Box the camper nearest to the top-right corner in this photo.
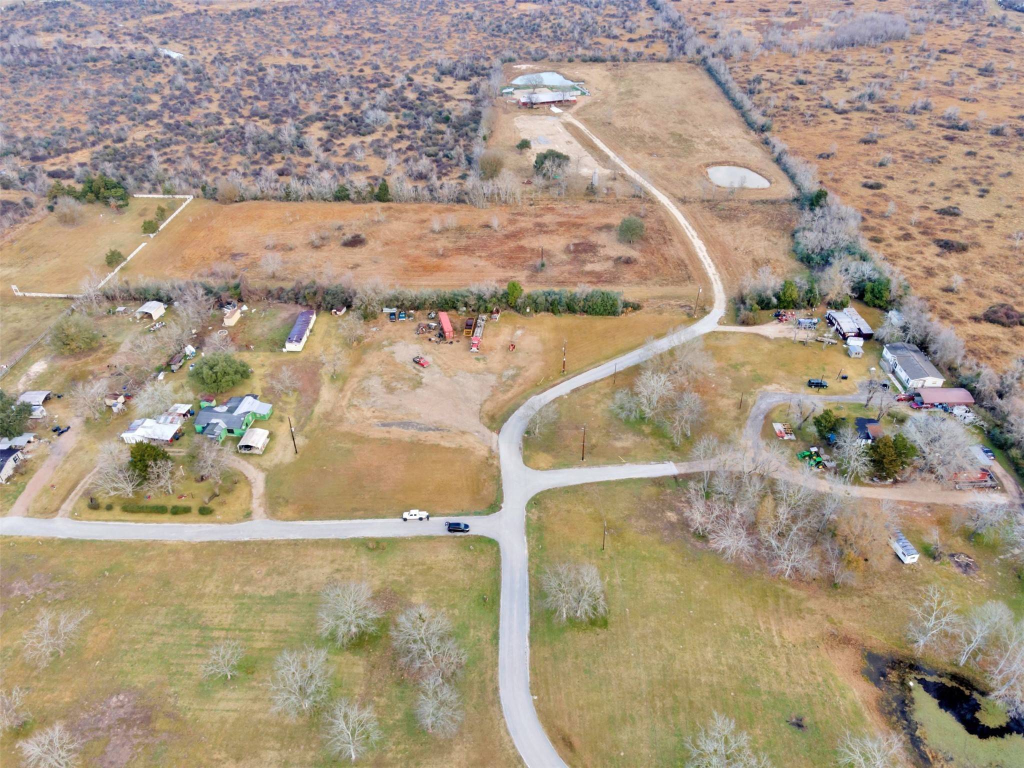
[886,312,902,332]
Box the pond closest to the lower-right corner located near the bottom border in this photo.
[915,677,1024,742]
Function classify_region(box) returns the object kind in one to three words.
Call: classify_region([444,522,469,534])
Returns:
vehicle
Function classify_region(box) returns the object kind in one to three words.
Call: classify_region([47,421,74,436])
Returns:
vehicle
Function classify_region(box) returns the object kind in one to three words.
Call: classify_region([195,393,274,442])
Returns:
house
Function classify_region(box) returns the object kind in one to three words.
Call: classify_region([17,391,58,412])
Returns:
barn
